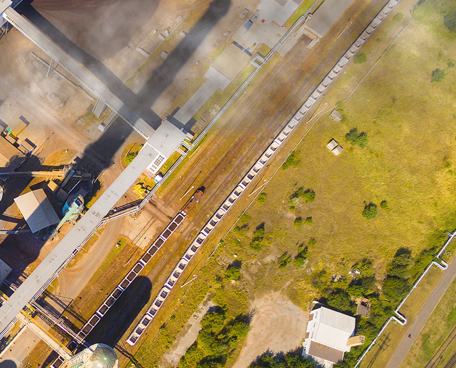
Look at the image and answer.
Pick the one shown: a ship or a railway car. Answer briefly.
railway car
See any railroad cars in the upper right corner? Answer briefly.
Yes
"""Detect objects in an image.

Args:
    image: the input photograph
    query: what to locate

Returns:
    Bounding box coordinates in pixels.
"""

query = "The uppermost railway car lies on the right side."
[377,0,398,20]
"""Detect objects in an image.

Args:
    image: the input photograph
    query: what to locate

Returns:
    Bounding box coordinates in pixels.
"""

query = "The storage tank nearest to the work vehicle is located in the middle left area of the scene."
[52,192,84,236]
